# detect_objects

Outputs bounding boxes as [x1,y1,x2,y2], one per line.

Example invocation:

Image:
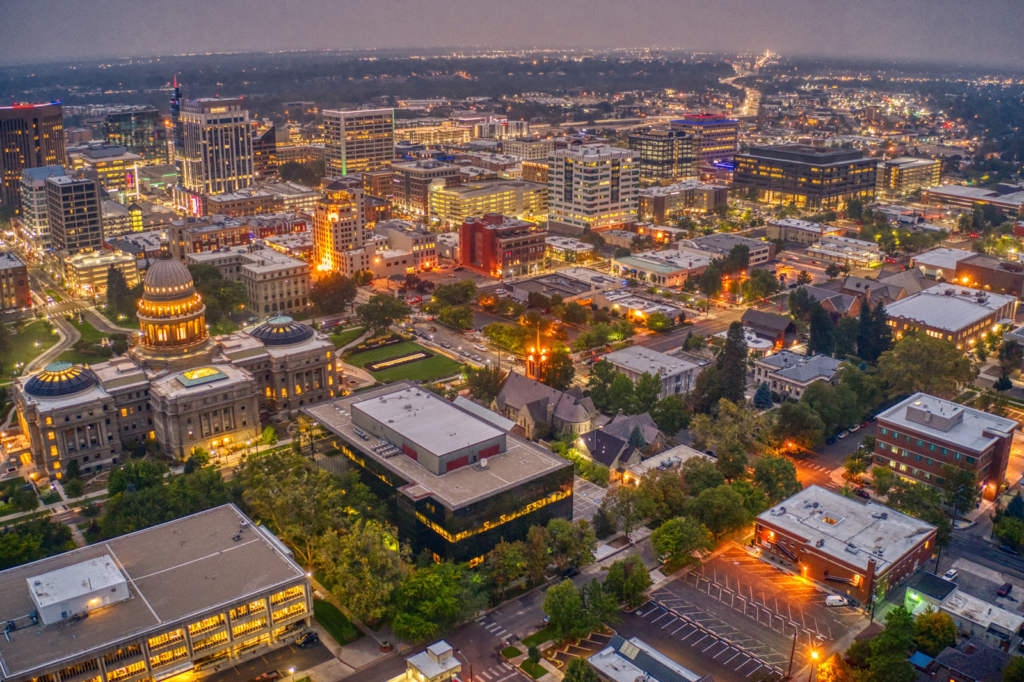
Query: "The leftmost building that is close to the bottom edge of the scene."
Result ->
[0,497,311,682]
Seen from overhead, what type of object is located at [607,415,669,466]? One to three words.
house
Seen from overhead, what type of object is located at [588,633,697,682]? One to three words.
building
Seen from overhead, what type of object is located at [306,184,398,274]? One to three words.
building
